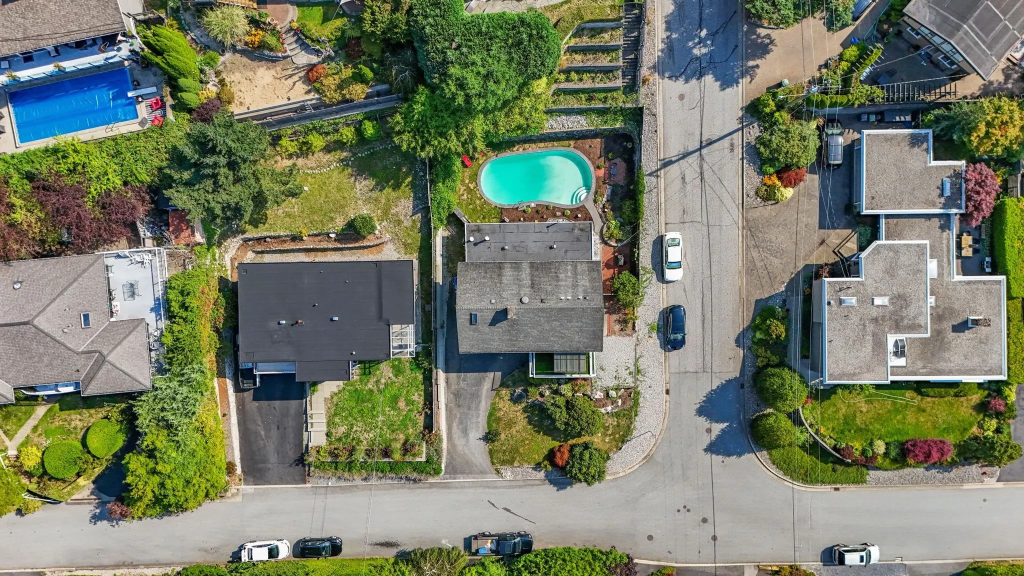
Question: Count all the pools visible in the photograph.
2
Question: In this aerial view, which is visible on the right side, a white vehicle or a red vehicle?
white vehicle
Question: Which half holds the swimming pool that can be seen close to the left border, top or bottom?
top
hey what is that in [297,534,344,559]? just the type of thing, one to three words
car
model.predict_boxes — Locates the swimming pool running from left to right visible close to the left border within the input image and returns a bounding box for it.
[4,65,141,149]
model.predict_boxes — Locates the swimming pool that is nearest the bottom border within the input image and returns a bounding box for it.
[477,146,596,209]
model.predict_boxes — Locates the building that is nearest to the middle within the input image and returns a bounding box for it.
[455,223,604,354]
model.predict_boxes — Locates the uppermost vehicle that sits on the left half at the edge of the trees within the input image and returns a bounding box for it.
[236,351,262,399]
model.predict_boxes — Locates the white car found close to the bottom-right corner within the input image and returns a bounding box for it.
[831,540,880,566]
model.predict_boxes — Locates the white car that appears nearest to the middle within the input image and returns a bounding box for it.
[662,231,685,283]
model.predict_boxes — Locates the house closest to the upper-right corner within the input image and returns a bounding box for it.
[889,0,1024,86]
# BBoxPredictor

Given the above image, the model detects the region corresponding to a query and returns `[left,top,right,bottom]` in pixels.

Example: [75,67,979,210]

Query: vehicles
[664,305,687,351]
[236,351,262,399]
[243,537,291,561]
[831,540,880,566]
[662,231,685,283]
[297,534,344,559]
[818,119,846,171]
[838,0,880,33]
[474,530,531,556]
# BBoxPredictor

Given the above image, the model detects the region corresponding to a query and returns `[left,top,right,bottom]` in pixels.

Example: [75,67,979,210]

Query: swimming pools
[477,146,596,209]
[4,65,141,149]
